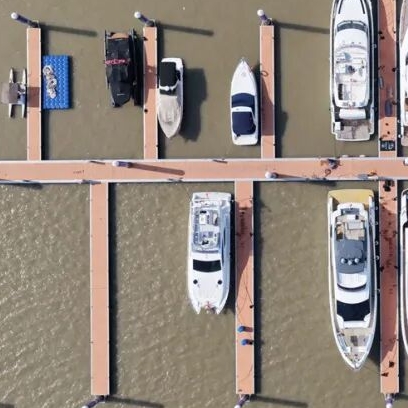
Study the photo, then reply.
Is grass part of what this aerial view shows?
No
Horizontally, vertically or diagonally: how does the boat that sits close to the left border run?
vertically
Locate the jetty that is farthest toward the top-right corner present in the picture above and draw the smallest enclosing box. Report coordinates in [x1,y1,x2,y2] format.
[378,0,397,158]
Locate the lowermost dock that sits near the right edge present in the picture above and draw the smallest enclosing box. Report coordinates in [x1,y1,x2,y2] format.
[379,180,399,402]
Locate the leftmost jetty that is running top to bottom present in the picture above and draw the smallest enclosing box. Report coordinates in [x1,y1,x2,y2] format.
[27,18,43,160]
